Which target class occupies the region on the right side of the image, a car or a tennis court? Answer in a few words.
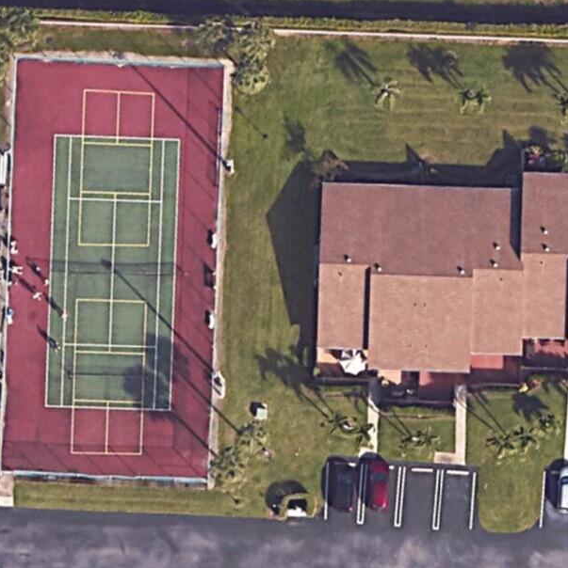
car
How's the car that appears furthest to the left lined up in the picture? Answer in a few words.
vertically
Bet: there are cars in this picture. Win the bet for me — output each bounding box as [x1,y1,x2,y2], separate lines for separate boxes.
[556,466,568,515]
[366,461,392,513]
[328,461,354,514]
